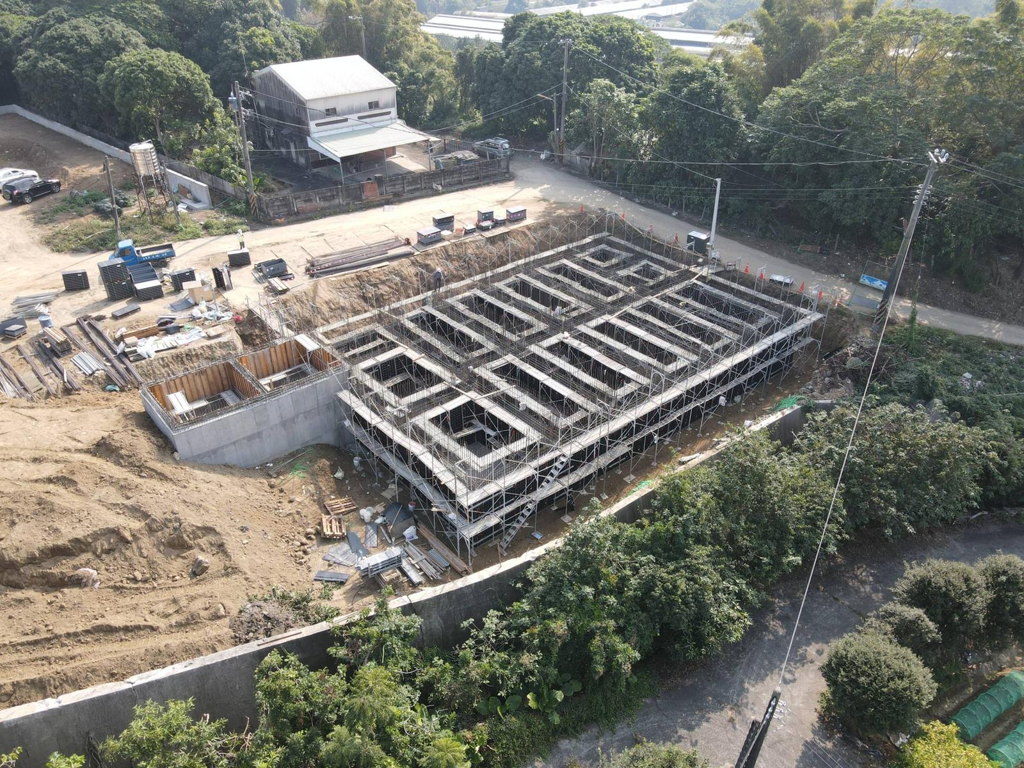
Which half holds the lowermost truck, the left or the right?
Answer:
left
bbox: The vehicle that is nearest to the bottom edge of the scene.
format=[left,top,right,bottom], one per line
[111,232,179,269]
